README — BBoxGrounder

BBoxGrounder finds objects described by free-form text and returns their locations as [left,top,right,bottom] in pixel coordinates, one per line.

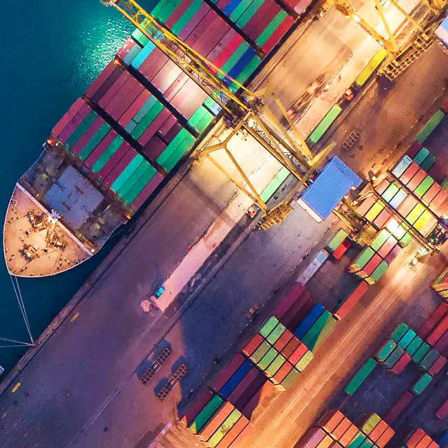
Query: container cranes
[358,169,448,260]
[322,0,448,78]
[102,0,390,251]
